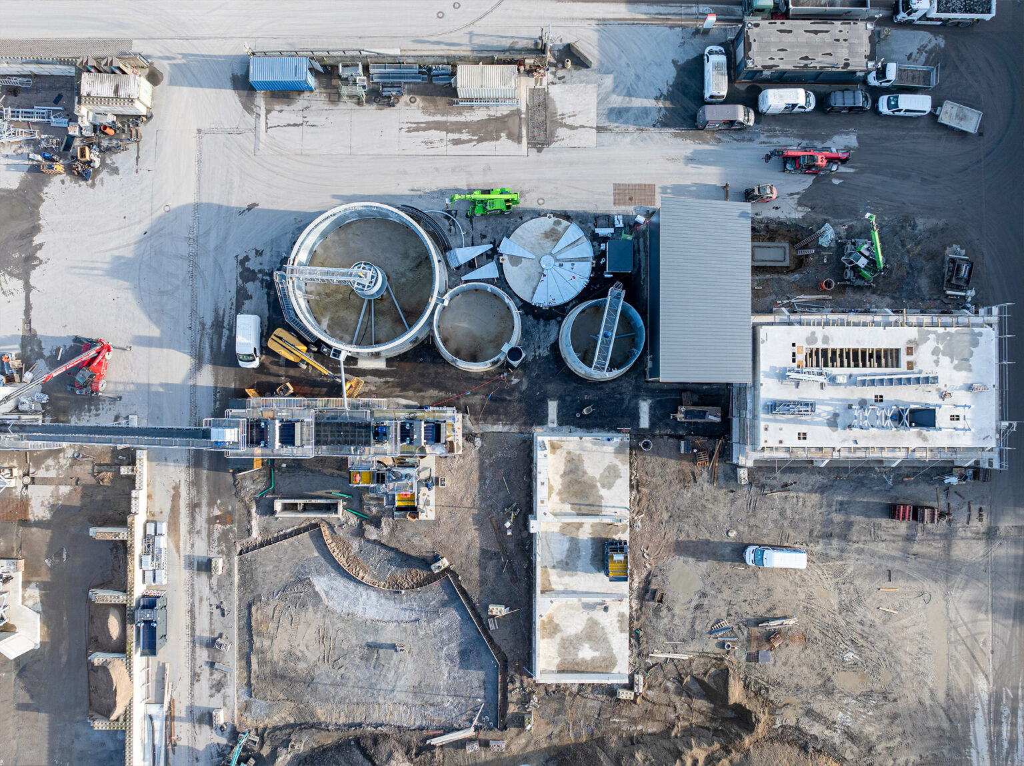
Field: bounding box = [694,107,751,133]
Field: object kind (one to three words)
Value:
vehicle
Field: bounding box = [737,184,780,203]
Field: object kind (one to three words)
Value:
work vehicle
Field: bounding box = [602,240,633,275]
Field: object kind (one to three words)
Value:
shed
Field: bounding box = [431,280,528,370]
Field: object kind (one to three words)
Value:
storage tank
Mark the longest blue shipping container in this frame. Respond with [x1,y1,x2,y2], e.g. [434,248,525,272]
[238,39,328,92]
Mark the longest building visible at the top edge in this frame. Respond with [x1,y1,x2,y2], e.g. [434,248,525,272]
[731,13,884,88]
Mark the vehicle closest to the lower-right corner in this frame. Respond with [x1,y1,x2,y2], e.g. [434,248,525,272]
[738,541,809,568]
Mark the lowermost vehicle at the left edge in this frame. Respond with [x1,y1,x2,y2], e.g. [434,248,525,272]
[0,332,133,405]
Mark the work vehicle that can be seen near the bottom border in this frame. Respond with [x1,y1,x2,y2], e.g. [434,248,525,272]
[216,722,262,766]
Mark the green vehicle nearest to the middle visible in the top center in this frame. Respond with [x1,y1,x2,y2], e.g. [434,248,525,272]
[446,189,519,217]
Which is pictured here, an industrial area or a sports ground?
industrial area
